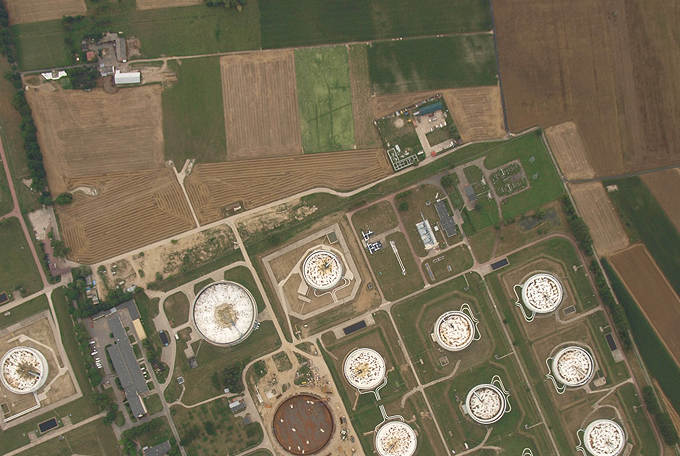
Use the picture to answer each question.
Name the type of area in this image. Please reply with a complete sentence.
This looks like an industrial area.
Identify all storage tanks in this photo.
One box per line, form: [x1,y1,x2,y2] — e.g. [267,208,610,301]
[434,310,475,352]
[270,391,337,456]
[551,346,594,388]
[582,418,625,456]
[345,347,387,389]
[522,274,564,315]
[0,347,49,393]
[375,419,417,456]
[465,383,507,425]
[302,248,343,288]
[191,280,257,346]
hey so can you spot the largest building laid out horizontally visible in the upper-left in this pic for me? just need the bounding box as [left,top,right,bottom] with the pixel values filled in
[114,72,141,85]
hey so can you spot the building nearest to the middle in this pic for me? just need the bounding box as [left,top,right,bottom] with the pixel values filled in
[416,213,438,249]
